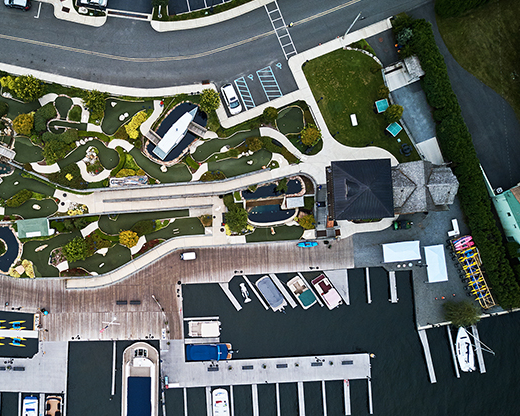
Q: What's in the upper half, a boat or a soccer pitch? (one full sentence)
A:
Looking in the upper half, you will find a boat.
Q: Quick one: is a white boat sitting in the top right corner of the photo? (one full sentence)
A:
No, I see no white boat in the top right corner of the photo.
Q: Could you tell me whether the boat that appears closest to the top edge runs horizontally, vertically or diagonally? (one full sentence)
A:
Seen from above, the boat that appears closest to the top edge lies diagonally.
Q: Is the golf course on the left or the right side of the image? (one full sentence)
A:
The golf course is on the left side of the image.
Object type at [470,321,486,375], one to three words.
pier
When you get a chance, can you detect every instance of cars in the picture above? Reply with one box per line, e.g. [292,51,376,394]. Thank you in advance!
[80,0,110,9]
[3,0,32,12]
[220,82,241,116]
